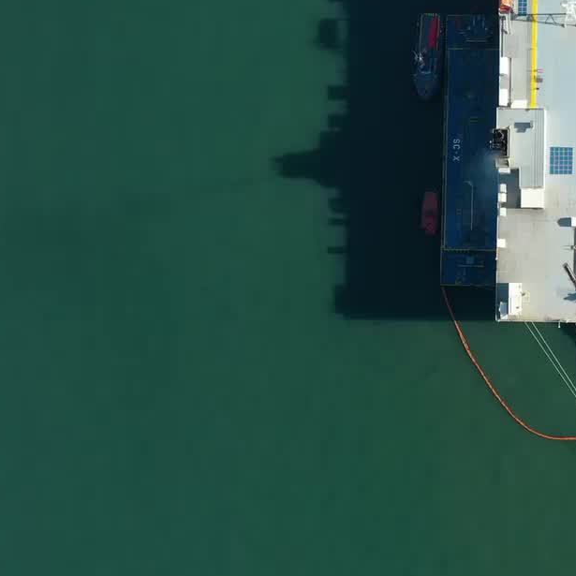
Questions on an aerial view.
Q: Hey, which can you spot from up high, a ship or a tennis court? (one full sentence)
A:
I can see a ship in this picture.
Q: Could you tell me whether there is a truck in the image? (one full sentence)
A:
No, no truck can be seen from above.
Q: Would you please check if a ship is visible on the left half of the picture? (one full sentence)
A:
No, no ship appears on the left half of the picture.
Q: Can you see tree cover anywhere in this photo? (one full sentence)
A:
No, no tree cover is visible.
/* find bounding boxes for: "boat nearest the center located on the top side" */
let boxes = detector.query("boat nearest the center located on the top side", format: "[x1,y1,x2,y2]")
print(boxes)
[421,192,439,235]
